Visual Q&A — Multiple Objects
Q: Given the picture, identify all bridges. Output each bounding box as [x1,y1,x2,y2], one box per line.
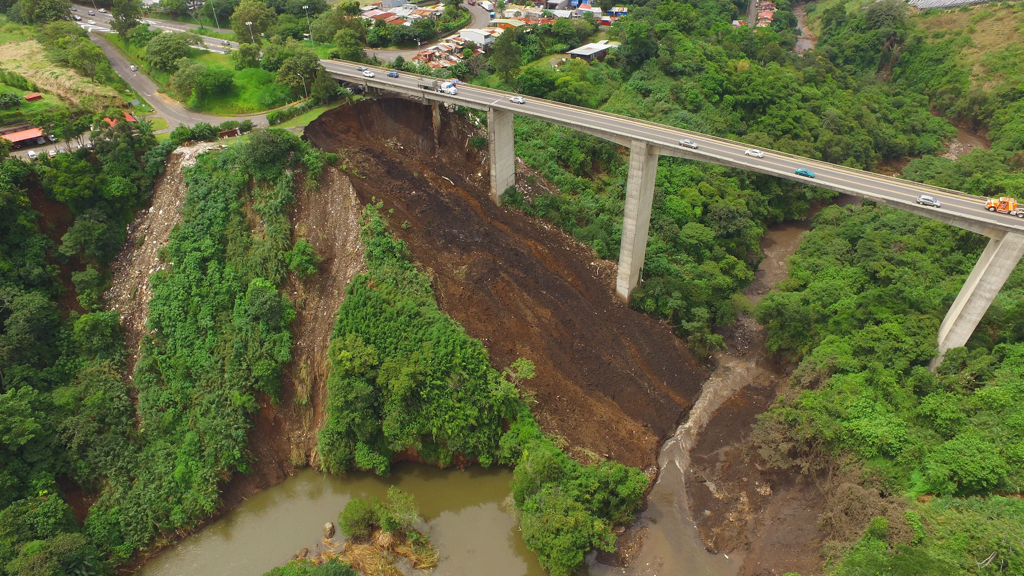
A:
[321,61,1024,367]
